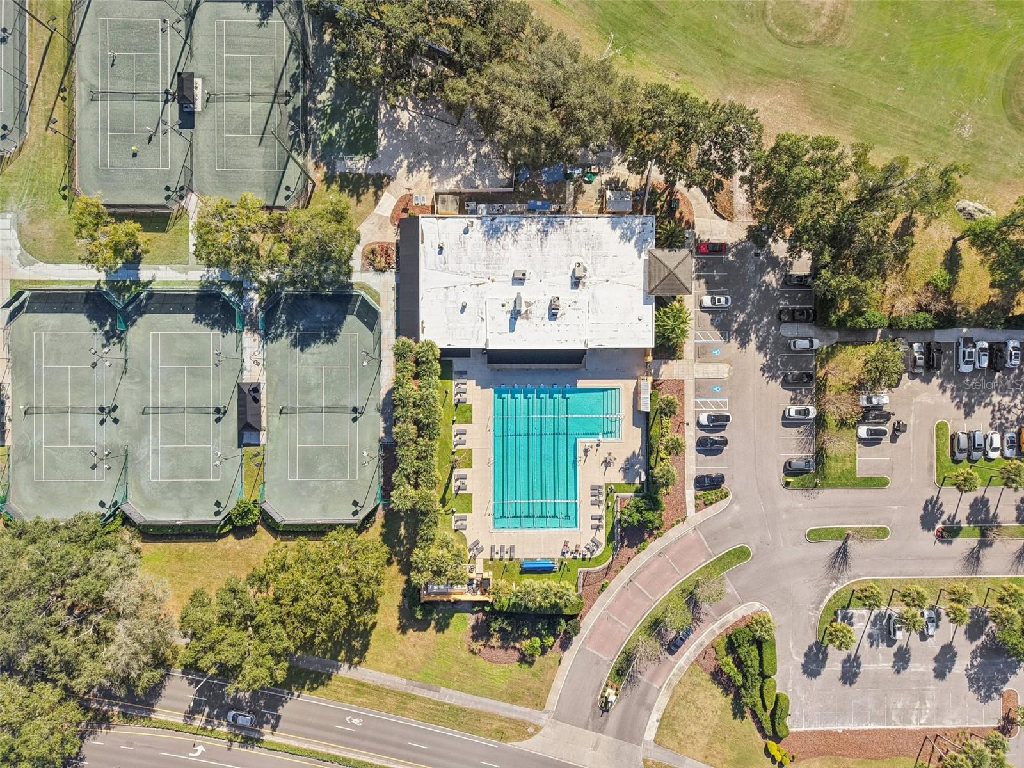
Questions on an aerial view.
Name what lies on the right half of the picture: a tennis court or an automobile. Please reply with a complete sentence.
The one visible on the right half of the picture is an automobile.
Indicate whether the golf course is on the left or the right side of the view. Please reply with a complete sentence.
The golf course appears in the right half of the scene.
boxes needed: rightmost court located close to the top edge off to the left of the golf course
[191,0,311,207]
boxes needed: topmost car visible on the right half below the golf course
[696,240,726,255]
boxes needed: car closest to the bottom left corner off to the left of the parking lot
[227,707,257,727]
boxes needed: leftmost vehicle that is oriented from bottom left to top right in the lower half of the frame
[664,623,693,658]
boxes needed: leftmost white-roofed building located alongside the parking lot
[398,214,656,369]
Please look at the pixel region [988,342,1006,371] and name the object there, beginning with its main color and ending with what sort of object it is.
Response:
black car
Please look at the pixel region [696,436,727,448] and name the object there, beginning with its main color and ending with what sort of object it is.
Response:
black vehicle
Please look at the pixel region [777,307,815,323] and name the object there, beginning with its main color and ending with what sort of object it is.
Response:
black vehicle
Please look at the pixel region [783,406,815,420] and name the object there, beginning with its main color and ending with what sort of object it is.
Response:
white car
